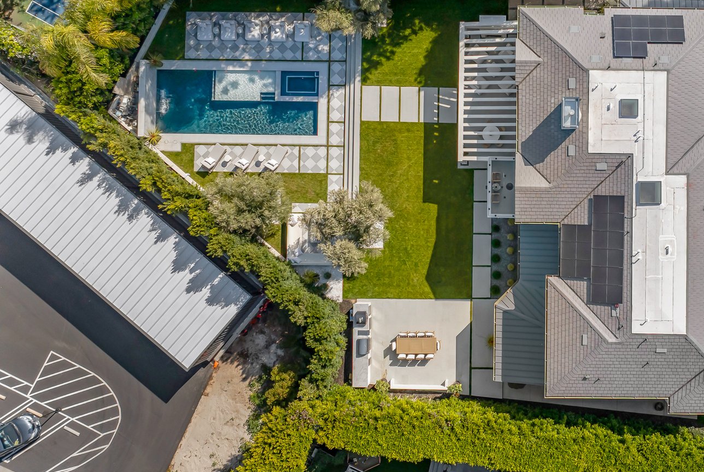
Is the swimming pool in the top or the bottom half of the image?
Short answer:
top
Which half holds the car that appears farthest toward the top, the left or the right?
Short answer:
left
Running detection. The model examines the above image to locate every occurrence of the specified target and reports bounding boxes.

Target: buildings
[0,56,277,372]
[489,0,704,416]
